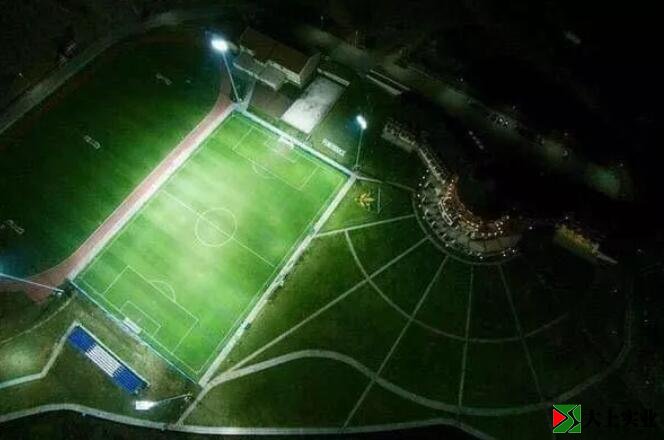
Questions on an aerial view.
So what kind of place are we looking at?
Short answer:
sports ground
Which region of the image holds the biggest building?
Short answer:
top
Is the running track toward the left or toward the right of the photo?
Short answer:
left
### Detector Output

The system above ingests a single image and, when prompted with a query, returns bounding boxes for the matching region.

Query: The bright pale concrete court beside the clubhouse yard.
[281,77,346,135]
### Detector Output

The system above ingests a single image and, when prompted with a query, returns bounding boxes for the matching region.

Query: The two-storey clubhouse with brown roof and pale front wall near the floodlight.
[231,22,320,91]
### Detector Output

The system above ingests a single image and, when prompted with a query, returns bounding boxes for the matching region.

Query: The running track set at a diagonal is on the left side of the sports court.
[0,32,237,305]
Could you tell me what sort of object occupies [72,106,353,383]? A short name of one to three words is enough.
soccer field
